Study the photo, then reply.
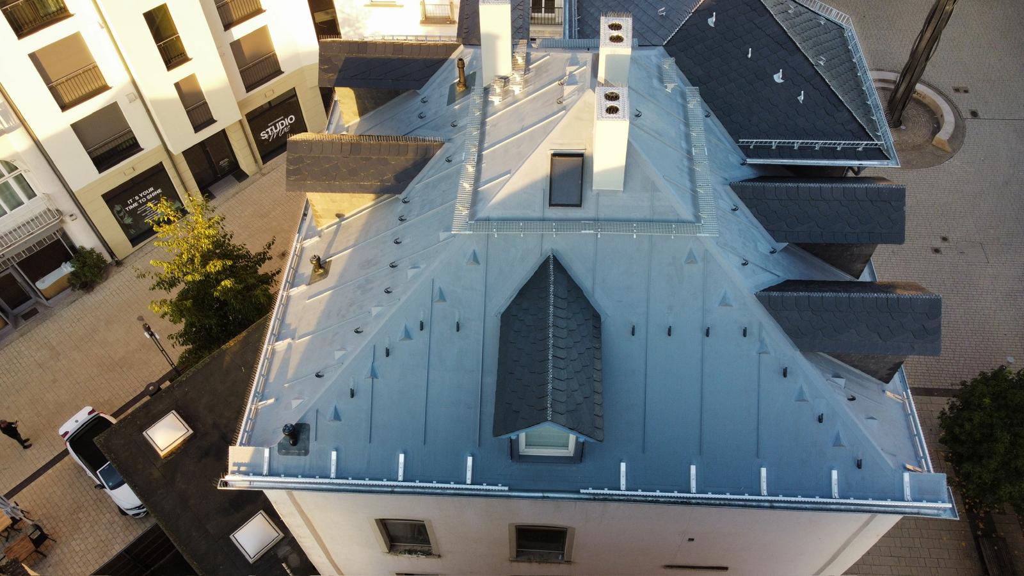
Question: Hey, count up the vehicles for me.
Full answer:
Only 1 vehicle is visible.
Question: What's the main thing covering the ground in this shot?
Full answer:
The bulk of the photo consists of buildings.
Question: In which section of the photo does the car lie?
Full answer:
Look in the bottom left portion of the view to spot the car.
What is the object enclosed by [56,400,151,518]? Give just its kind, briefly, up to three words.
car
